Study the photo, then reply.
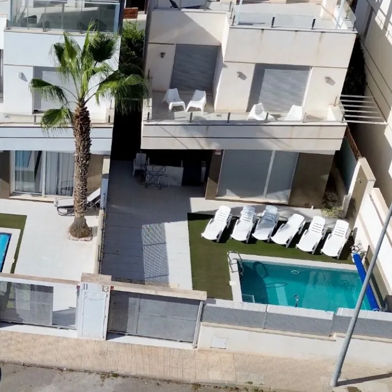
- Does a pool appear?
Yes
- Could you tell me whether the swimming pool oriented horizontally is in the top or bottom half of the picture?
bottom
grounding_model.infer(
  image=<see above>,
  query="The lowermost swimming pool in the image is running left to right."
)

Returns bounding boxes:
[228,250,374,329]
